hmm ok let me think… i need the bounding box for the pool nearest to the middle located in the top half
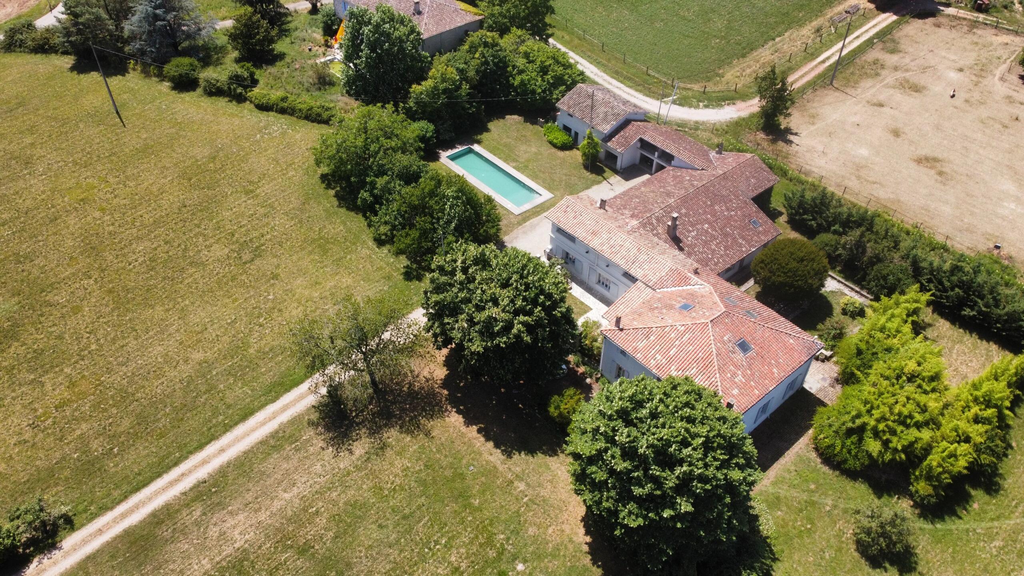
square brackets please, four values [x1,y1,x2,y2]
[434,140,555,215]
